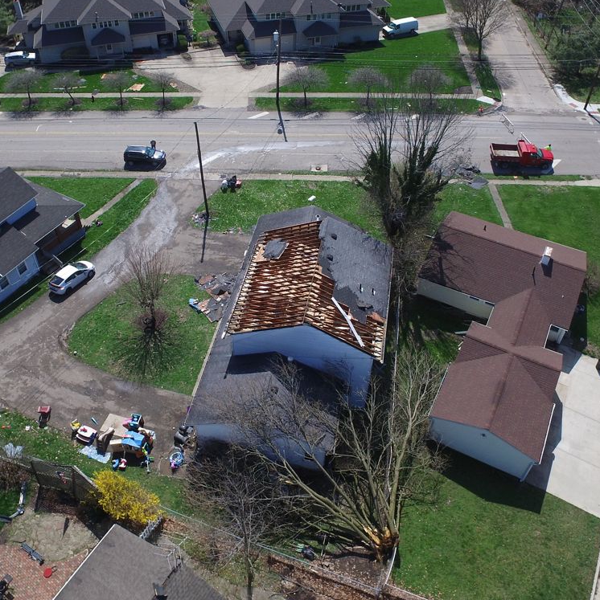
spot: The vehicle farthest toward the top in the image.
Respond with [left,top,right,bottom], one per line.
[381,15,421,36]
